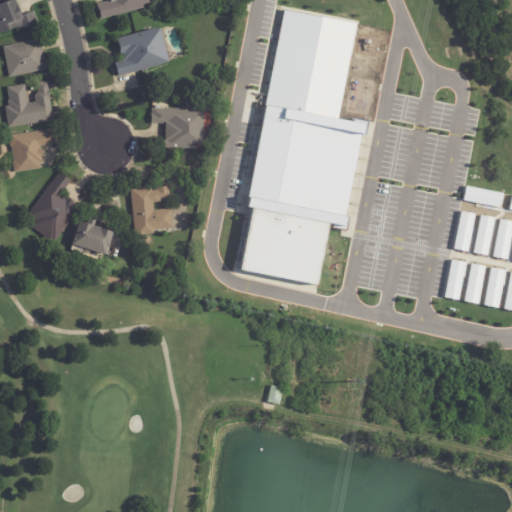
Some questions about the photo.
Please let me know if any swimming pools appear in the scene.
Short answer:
Yes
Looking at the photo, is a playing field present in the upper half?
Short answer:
No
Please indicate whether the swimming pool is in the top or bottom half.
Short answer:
top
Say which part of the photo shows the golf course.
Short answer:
bottom left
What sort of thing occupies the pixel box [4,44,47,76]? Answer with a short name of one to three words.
house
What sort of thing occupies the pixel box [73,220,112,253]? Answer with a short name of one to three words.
house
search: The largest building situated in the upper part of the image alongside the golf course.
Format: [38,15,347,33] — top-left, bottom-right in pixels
[242,10,369,284]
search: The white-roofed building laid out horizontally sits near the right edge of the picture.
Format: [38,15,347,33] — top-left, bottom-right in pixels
[464,186,504,208]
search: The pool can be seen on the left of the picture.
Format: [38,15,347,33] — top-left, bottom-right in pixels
[161,27,187,60]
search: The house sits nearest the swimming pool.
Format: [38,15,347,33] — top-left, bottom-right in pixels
[116,28,170,76]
